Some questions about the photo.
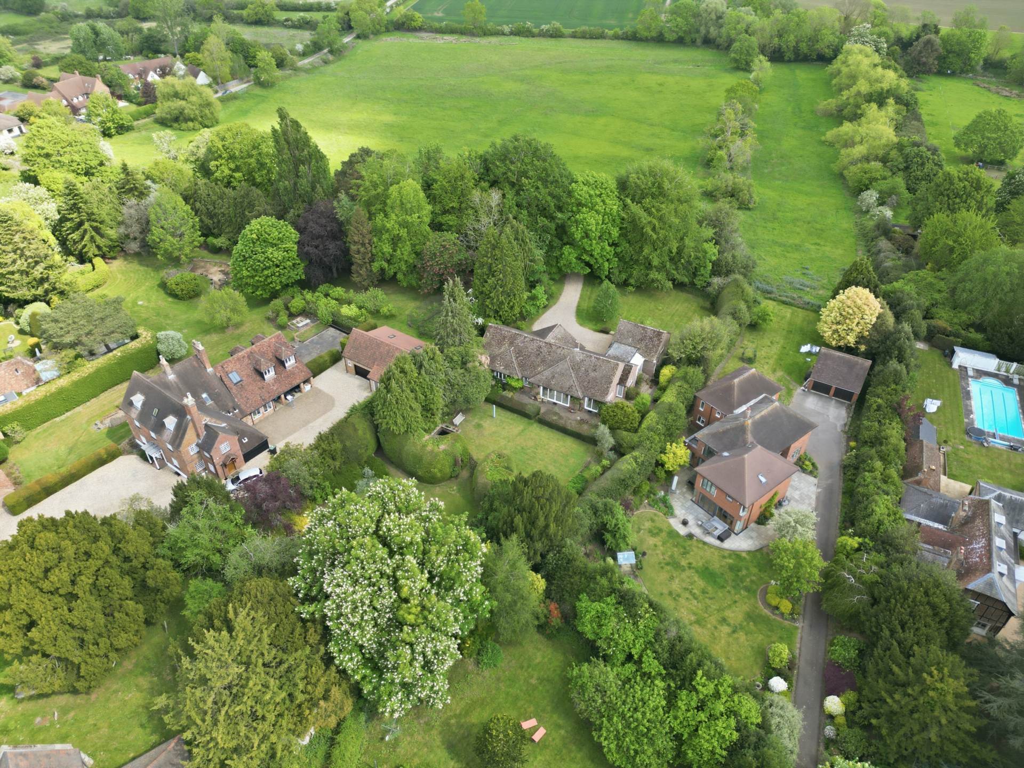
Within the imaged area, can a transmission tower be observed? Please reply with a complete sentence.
No, this view has no transmission tower in it.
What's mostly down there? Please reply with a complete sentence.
For the most part, this view shows trees.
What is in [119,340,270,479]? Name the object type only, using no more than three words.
house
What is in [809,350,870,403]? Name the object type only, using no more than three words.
building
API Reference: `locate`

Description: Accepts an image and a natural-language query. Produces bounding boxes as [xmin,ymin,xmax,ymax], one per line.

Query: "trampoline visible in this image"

[966,421,990,438]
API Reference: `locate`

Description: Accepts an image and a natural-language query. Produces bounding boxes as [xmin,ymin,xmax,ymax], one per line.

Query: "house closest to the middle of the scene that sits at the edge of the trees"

[493,318,638,411]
